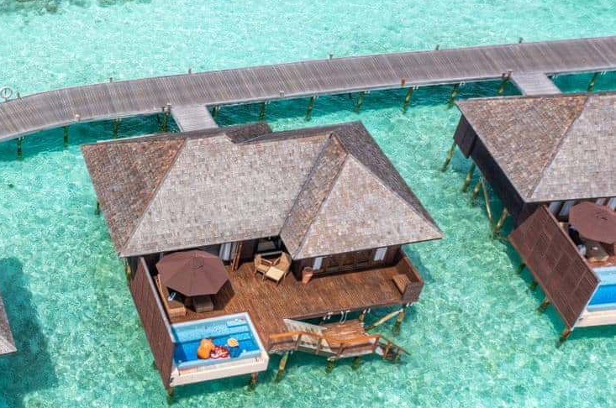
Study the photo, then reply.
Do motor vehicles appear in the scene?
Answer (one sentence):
No, I find no motor vehicle anywhere in the image.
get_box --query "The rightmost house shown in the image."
[449,90,616,344]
